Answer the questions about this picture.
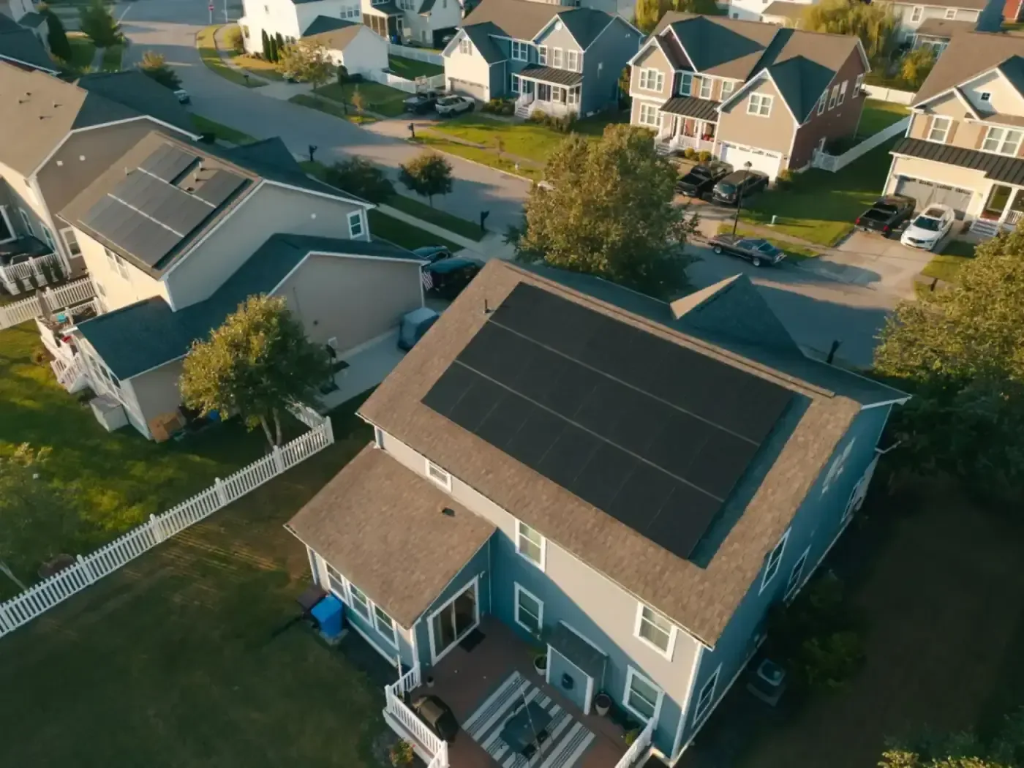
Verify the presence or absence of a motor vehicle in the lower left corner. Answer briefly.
No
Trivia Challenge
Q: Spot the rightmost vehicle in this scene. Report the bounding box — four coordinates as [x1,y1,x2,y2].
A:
[903,213,952,248]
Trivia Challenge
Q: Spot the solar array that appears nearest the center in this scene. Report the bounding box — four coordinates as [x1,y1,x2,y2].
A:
[420,283,793,558]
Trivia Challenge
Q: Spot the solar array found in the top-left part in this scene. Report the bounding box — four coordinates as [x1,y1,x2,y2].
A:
[77,142,245,264]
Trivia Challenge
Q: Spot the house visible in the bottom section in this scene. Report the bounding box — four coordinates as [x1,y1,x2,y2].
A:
[282,262,906,764]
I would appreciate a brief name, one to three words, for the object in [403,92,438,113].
car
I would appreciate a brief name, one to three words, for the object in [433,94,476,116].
car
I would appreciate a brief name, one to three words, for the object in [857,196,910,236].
truck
